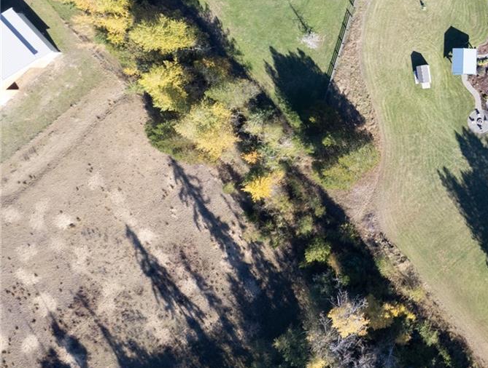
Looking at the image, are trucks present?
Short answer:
No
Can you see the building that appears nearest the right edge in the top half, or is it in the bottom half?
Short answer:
top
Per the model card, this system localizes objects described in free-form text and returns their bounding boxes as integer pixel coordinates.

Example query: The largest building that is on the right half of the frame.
[453,48,477,74]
